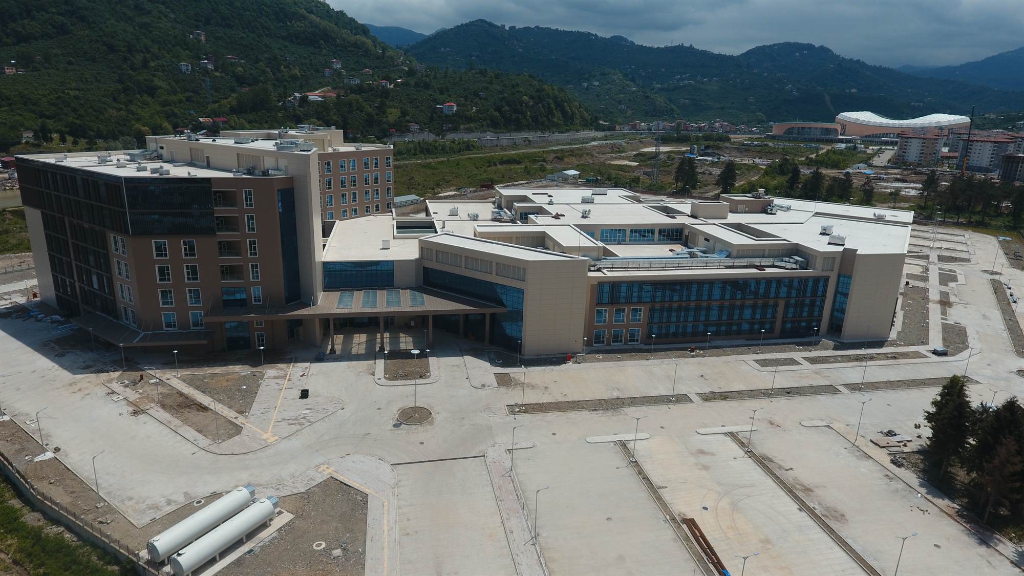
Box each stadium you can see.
[830,111,968,152]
